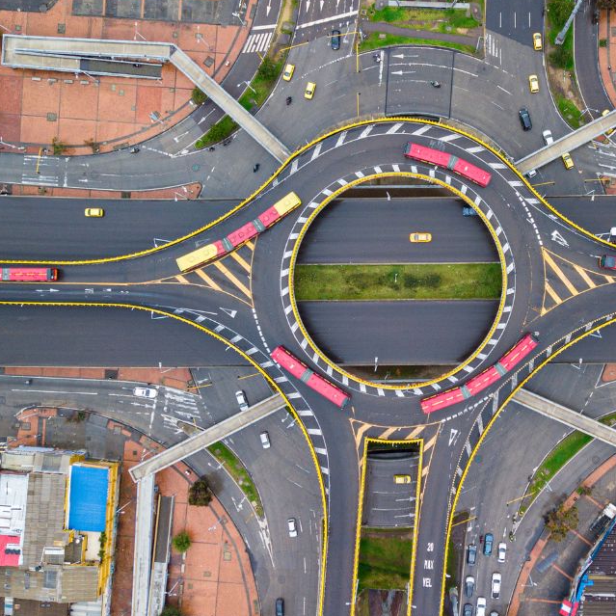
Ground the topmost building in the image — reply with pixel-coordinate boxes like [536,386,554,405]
[1,449,81,474]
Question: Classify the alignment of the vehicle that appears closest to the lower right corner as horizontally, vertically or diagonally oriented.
diagonally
